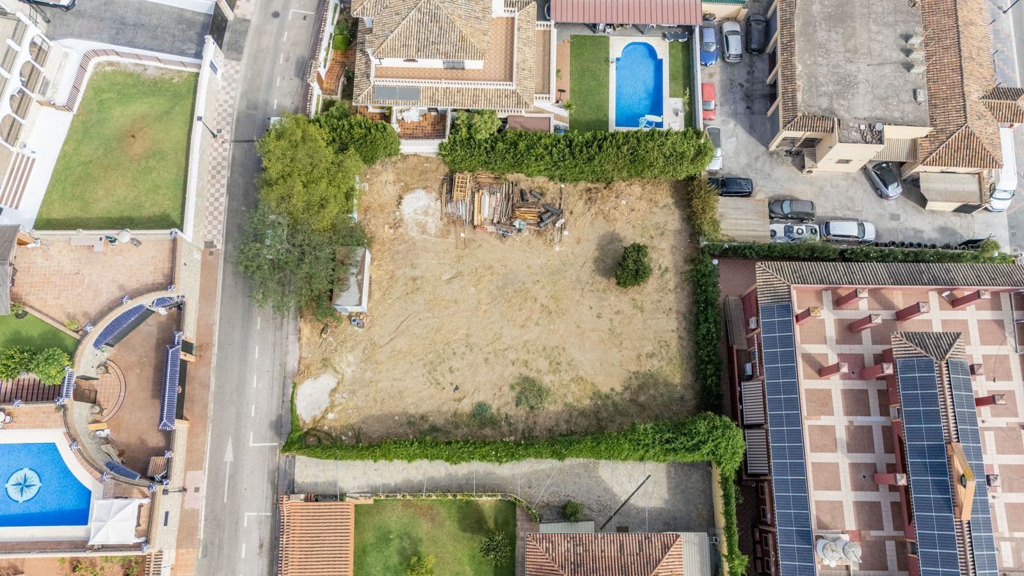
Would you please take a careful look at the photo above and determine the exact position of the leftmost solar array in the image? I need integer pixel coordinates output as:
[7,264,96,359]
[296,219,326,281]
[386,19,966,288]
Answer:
[760,303,814,576]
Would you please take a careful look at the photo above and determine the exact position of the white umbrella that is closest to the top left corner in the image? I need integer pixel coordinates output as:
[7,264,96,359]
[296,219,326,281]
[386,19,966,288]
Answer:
[119,232,137,247]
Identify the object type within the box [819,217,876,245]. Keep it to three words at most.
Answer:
car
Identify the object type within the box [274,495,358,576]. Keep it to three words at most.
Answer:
building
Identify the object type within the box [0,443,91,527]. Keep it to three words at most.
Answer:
swimming pool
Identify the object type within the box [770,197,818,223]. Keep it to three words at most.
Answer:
car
